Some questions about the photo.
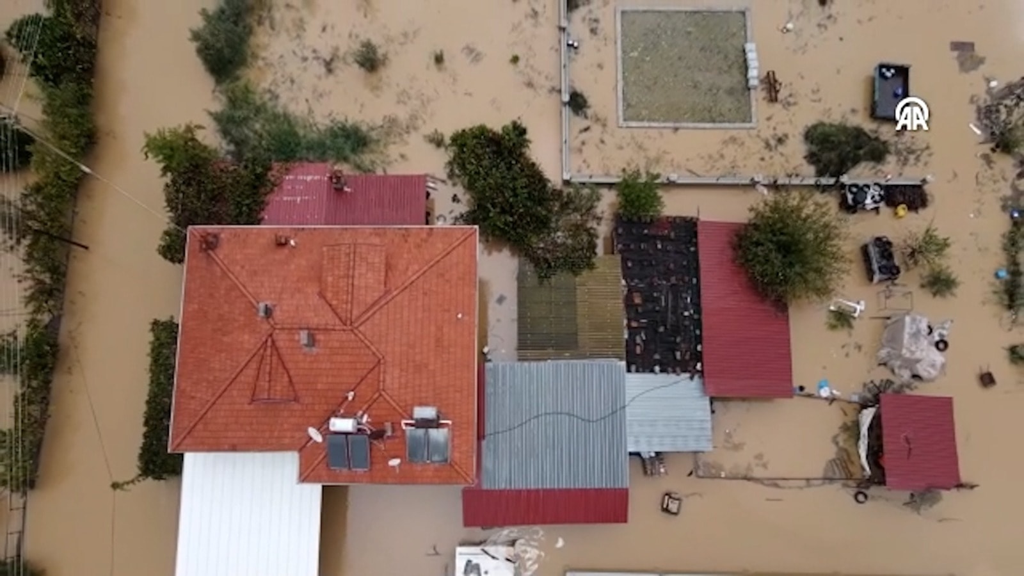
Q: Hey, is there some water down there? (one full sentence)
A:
Yes, water shows up in the scene.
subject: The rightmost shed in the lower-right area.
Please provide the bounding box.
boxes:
[861,394,961,490]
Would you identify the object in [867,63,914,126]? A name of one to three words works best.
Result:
trailer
